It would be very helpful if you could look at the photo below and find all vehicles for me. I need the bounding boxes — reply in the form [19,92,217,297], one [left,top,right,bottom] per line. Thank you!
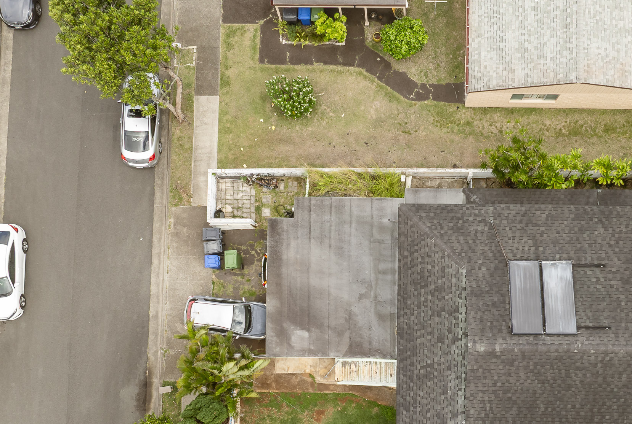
[114,73,164,170]
[0,0,41,31]
[182,298,266,345]
[243,174,283,189]
[0,224,25,320]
